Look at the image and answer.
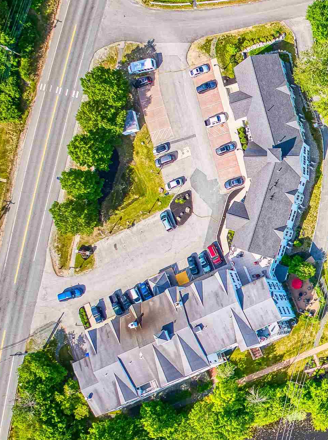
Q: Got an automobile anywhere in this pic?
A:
Yes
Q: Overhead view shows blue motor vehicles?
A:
Yes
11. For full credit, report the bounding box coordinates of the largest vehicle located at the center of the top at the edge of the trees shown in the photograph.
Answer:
[128,57,158,75]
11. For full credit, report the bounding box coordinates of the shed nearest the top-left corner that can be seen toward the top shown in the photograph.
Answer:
[122,108,145,135]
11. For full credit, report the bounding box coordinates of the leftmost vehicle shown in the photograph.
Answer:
[55,286,84,302]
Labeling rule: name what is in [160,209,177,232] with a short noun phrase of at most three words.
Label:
car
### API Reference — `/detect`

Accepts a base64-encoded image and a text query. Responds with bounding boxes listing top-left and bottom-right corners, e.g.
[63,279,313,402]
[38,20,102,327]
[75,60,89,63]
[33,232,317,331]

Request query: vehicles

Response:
[160,209,177,232]
[195,79,219,93]
[197,251,213,275]
[55,286,84,302]
[119,293,132,313]
[202,113,228,127]
[138,281,153,302]
[223,175,247,190]
[108,293,125,317]
[128,285,143,303]
[89,302,107,324]
[153,153,178,168]
[132,75,153,88]
[206,241,223,265]
[185,253,201,277]
[128,57,158,75]
[214,142,238,155]
[163,175,187,191]
[189,63,212,77]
